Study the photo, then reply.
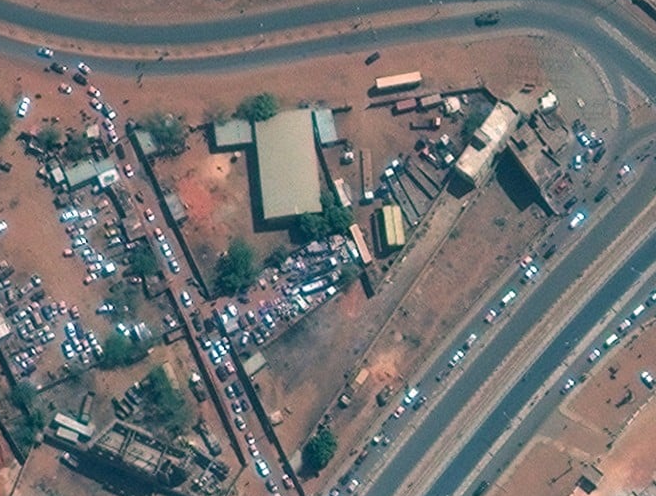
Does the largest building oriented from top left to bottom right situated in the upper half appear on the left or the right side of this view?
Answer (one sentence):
It is on the right.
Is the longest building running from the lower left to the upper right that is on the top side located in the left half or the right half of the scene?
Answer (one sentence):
The longest building running from the lower left to the upper right that is on the top side appears in the right half of the scene.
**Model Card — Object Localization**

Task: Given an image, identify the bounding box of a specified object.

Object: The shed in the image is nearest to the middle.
[349,223,371,264]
